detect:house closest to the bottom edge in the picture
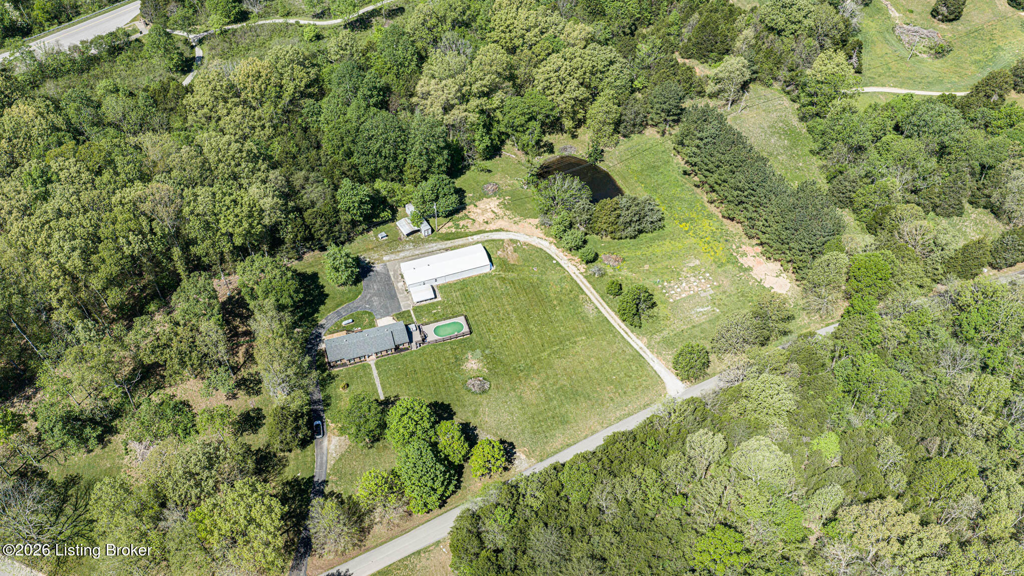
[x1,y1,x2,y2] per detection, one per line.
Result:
[325,322,409,367]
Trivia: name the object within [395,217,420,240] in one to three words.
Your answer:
shed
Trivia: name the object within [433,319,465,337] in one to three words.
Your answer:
swimming pool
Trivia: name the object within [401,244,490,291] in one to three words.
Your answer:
barn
